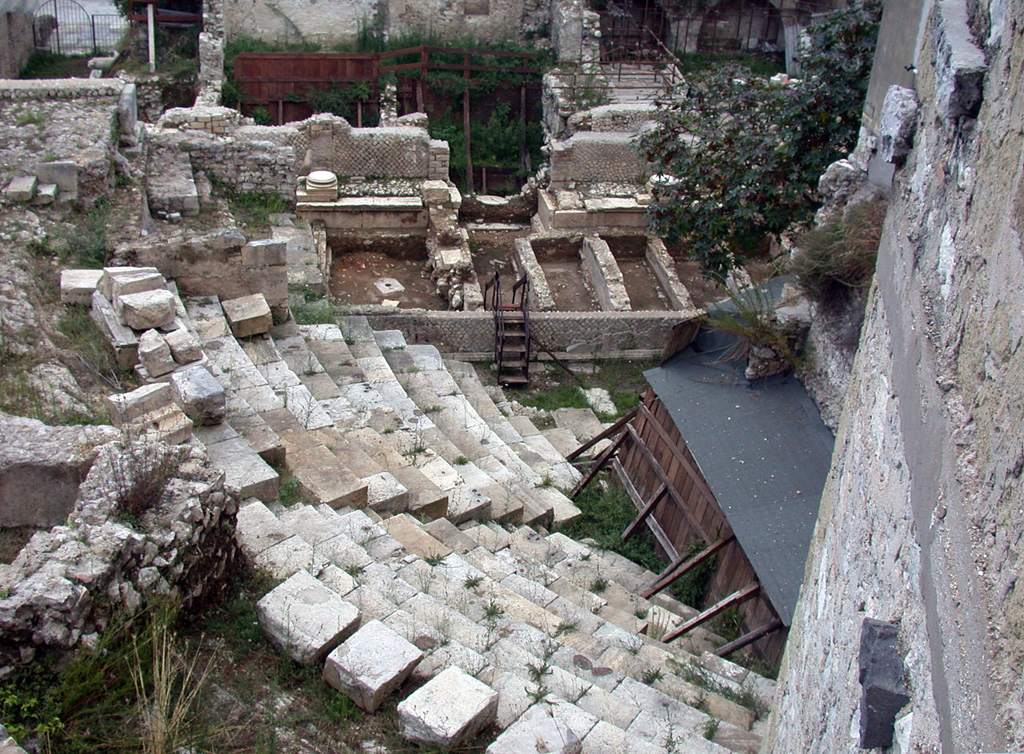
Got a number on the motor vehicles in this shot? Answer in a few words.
zero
